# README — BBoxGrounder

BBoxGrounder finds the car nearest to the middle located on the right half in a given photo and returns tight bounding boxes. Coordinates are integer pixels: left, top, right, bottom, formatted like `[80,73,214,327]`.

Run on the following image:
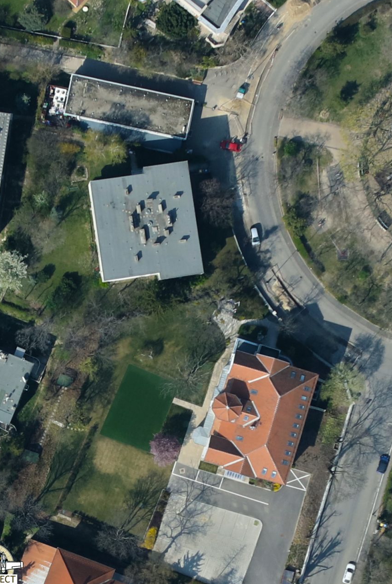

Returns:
[249,225,262,248]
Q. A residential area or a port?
residential area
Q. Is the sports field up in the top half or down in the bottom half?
bottom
